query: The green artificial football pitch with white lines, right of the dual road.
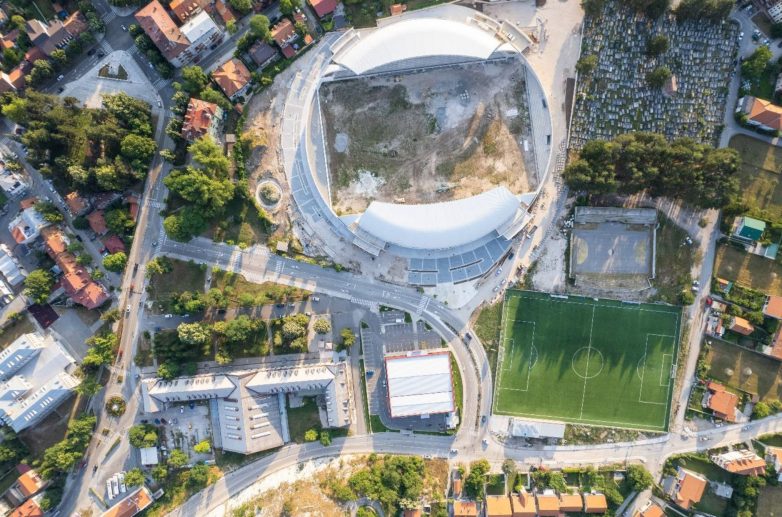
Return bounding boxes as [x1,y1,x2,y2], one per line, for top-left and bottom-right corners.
[491,289,681,434]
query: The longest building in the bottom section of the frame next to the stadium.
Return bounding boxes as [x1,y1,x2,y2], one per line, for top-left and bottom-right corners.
[140,365,355,454]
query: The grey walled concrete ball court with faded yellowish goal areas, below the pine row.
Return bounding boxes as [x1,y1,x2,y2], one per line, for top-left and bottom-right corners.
[571,207,659,280]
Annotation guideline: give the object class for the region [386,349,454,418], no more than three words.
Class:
building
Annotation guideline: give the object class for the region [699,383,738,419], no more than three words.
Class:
house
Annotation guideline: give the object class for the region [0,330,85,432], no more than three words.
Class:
building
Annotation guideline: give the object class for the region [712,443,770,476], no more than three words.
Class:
house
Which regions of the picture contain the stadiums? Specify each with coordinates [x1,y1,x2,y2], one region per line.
[281,0,553,284]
